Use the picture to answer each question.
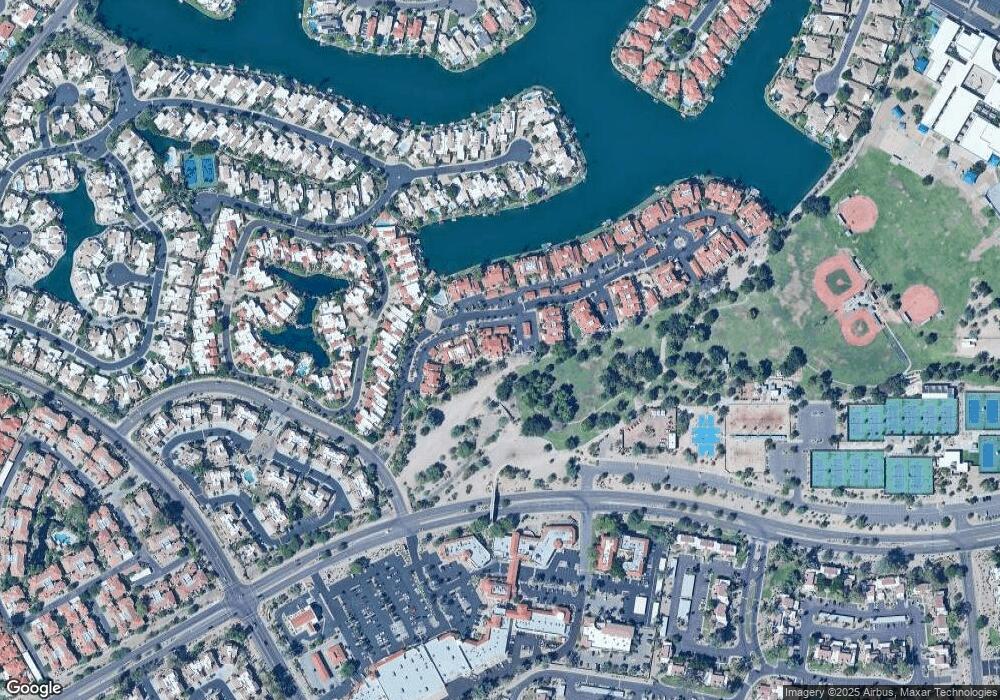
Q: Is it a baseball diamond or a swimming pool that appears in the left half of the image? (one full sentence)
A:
Visible in the left half of the image is a swimming pool.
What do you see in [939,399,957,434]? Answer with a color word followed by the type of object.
blue tennis court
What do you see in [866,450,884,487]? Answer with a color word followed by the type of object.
blue tennis court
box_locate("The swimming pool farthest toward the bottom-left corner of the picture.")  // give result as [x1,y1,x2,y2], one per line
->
[51,527,75,549]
